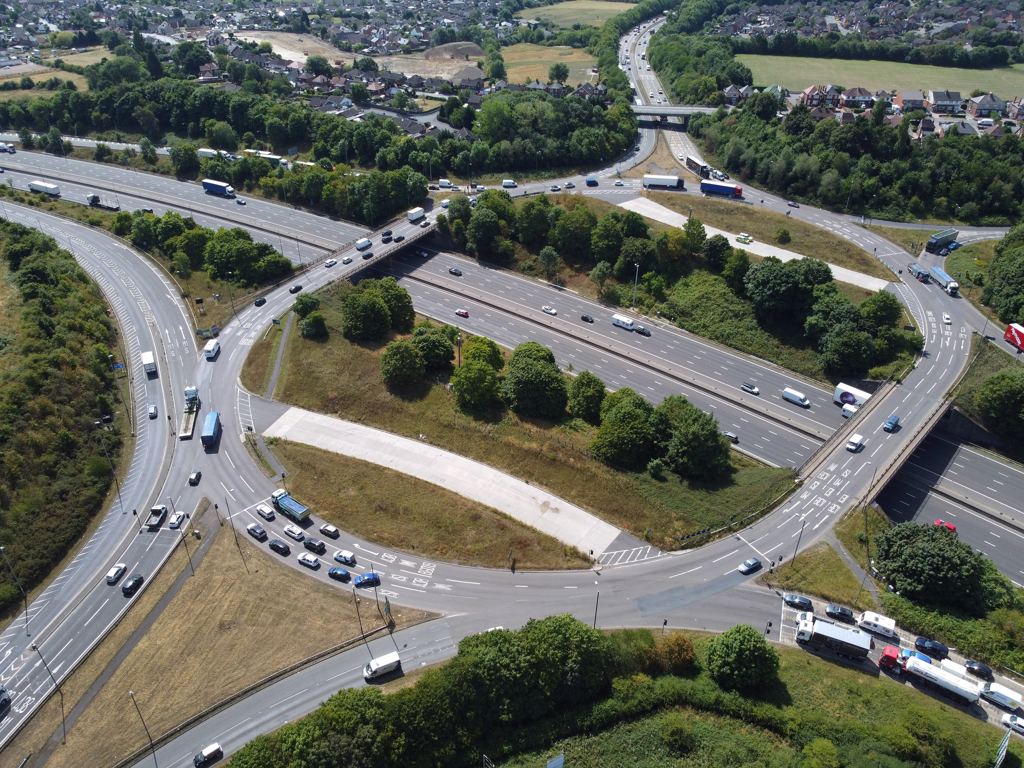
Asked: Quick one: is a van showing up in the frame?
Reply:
Yes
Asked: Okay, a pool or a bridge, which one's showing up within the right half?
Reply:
bridge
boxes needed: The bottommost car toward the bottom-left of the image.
[194,744,222,767]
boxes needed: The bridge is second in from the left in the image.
[628,102,741,128]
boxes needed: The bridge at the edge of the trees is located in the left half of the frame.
[281,205,449,295]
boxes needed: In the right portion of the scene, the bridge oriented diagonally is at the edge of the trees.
[779,362,969,532]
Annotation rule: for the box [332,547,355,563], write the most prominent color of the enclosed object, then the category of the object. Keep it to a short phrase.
white vehicle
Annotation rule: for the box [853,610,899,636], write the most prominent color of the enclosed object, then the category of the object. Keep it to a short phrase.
white camper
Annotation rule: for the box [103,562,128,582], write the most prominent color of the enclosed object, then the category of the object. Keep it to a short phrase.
white car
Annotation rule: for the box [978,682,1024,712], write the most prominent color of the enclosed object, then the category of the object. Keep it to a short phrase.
white van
